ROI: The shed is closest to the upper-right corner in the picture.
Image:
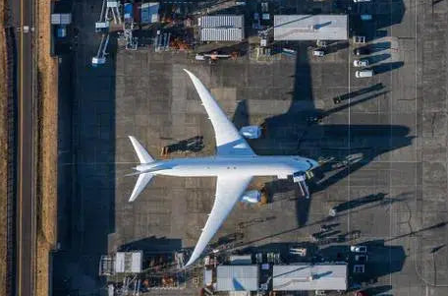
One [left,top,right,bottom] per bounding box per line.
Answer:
[273,14,349,40]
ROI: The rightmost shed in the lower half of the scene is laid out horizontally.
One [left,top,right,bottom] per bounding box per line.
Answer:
[272,263,348,290]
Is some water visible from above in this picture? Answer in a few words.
No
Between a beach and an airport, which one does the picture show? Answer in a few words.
airport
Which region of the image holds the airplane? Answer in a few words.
center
